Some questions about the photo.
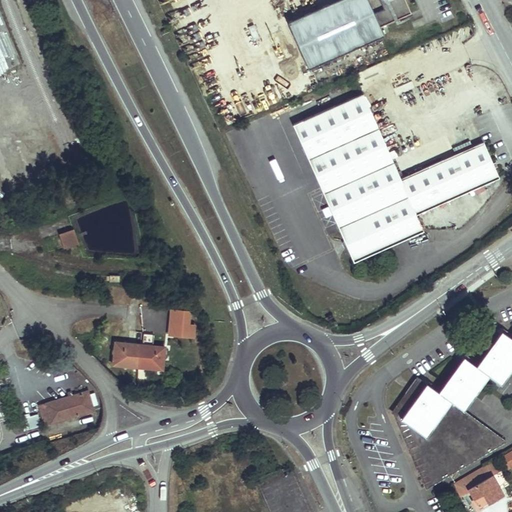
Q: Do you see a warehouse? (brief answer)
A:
Yes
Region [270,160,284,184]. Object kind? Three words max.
vehicle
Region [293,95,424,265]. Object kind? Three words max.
warehouse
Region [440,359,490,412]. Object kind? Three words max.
building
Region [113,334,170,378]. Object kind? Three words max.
house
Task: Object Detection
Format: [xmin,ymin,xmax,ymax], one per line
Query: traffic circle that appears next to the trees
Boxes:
[197,272,370,469]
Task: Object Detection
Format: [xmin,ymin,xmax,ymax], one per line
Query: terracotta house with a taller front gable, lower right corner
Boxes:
[454,464,509,512]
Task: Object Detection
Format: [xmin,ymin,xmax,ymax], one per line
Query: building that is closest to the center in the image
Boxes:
[168,310,196,339]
